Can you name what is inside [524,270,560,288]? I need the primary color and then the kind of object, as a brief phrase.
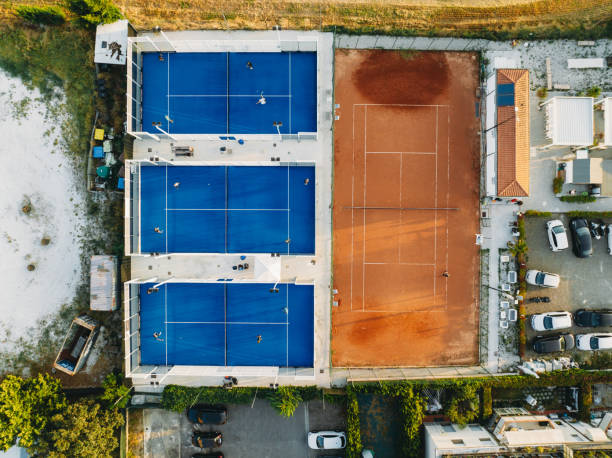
white car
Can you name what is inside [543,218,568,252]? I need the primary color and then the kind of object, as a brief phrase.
white car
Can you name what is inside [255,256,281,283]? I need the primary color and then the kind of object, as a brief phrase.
white umbrella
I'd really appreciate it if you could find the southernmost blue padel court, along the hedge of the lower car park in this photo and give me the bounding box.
[124,277,317,380]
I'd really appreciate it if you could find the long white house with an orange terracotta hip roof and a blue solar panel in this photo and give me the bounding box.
[488,68,531,197]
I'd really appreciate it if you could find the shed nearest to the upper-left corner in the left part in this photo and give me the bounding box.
[94,20,137,71]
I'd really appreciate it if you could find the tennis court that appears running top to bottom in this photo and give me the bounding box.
[331,49,481,368]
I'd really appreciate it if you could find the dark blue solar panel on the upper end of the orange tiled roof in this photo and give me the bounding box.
[498,81,515,107]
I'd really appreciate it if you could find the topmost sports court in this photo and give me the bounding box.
[127,36,319,142]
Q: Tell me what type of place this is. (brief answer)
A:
sports ground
